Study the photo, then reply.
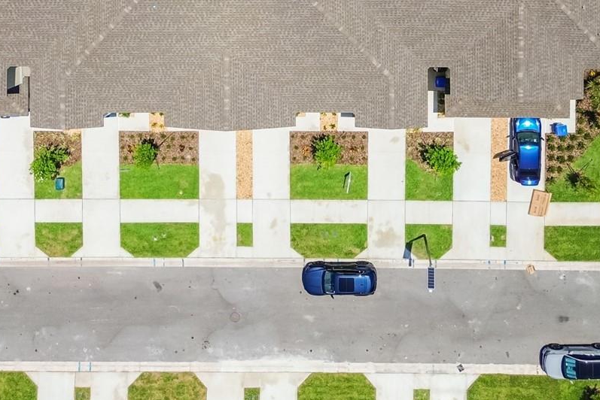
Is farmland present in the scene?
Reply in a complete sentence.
No, the picture contains no farmland.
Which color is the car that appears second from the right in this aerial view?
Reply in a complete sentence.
The car that appears second from the right is blue.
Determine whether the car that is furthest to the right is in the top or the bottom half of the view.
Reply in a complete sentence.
The car that is furthest to the right sits in the bottom half of the picture.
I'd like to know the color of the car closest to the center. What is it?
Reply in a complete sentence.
The color of the car closest to the center is blue.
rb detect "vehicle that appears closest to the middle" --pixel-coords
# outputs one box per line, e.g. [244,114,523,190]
[304,262,376,301]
